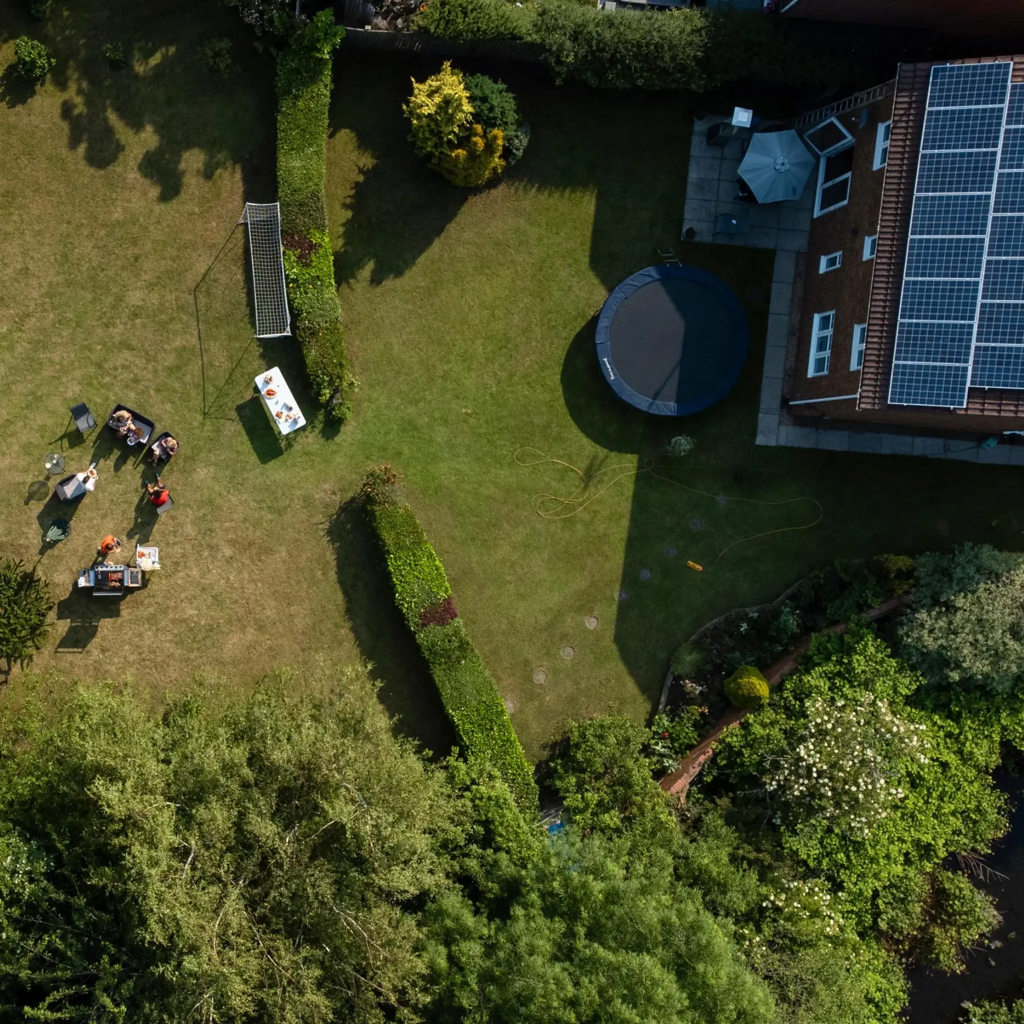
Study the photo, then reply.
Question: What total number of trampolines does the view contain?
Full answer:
The picture shows just 1 trampoline.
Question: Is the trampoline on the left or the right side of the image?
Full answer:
The trampoline sits on the right side.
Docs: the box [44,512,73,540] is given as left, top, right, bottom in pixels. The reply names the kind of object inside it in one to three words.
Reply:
umbrella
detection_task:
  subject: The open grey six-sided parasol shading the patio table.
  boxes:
[737,129,815,204]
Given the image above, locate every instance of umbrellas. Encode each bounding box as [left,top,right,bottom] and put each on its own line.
[737,129,815,204]
[44,512,73,540]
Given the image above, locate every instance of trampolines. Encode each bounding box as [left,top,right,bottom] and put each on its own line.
[595,254,748,417]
